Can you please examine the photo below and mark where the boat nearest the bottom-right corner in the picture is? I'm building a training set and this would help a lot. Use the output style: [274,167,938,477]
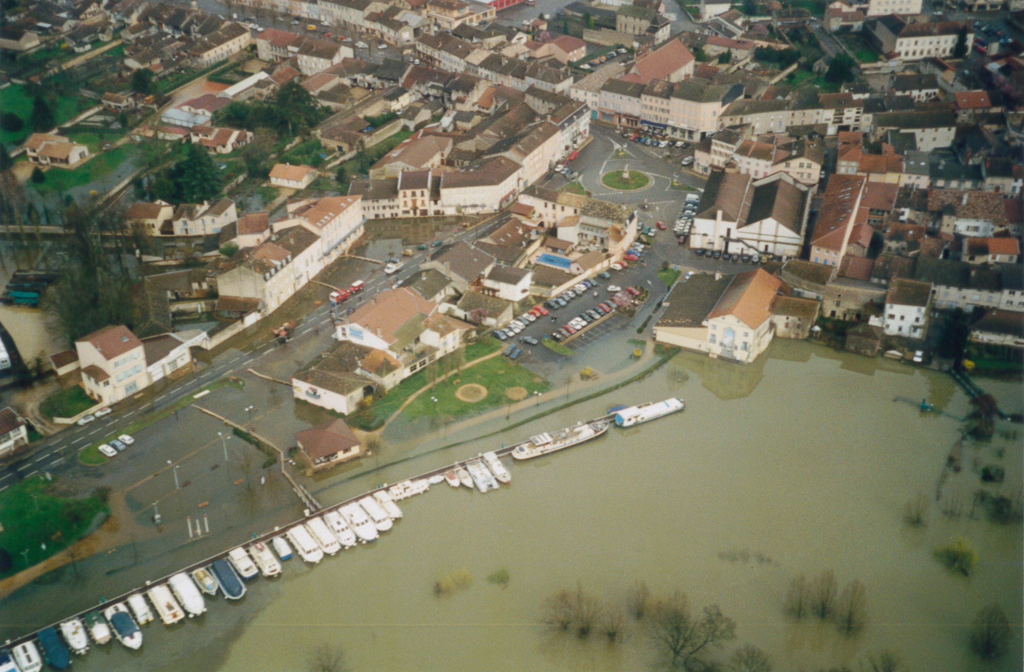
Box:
[921,392,936,412]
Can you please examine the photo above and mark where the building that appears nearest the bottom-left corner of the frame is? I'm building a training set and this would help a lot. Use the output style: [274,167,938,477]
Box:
[0,404,30,457]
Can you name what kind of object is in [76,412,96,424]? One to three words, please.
vehicle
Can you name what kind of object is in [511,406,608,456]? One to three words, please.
vessel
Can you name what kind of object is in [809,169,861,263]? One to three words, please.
building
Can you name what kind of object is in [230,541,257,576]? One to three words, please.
boat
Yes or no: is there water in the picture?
Yes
